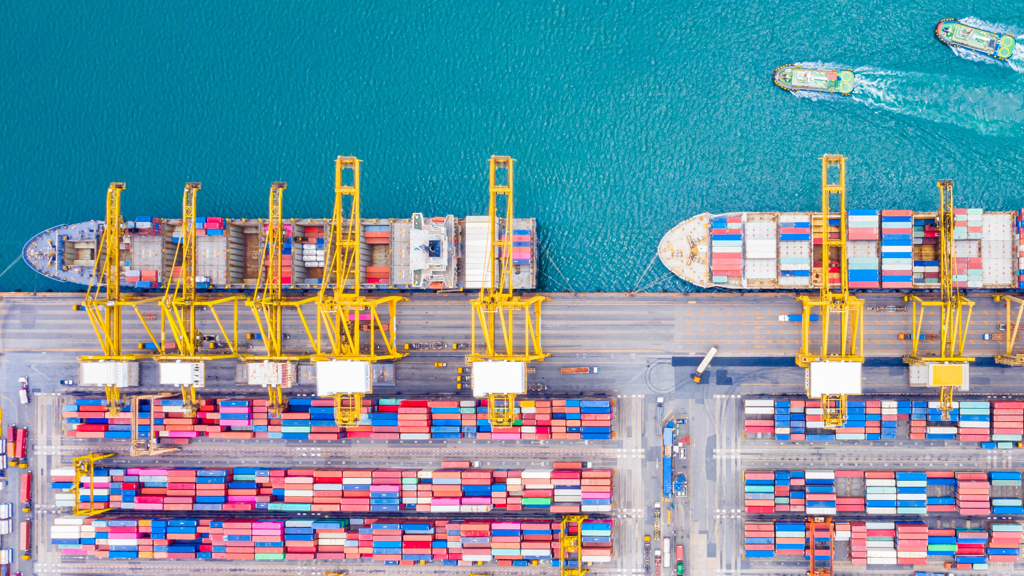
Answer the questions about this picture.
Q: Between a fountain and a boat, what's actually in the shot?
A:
boat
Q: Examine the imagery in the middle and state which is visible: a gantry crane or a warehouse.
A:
gantry crane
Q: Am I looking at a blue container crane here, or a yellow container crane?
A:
yellow container crane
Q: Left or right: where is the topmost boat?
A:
right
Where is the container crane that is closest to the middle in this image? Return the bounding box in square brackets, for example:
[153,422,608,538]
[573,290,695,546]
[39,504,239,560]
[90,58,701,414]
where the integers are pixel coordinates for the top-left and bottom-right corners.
[469,155,560,429]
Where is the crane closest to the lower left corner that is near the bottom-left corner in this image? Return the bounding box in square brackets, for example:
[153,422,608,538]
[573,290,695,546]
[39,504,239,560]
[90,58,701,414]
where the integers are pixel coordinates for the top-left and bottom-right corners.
[72,449,127,513]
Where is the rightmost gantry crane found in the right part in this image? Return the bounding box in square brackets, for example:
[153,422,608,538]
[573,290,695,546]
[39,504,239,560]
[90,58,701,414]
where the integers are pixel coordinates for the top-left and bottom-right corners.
[986,296,1024,361]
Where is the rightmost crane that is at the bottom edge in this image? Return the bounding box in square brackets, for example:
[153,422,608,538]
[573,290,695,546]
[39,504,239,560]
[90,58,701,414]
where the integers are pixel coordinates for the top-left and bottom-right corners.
[800,512,836,576]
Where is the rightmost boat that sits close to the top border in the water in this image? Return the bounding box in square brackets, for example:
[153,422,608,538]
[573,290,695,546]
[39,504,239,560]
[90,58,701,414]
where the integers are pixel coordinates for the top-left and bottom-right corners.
[934,17,1017,61]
